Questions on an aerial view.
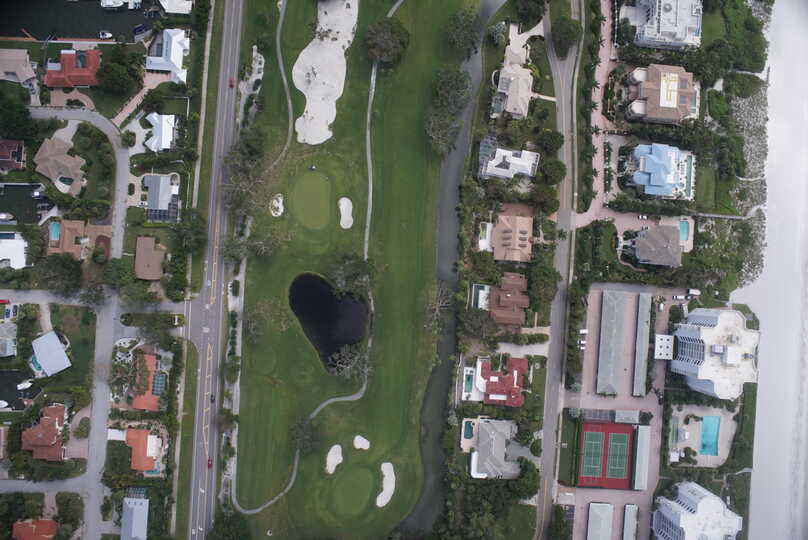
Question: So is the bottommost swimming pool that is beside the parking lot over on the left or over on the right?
right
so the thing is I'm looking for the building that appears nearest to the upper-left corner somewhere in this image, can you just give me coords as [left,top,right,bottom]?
[0,49,38,82]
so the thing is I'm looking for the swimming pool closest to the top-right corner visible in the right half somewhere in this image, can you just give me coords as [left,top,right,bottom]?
[680,81,700,122]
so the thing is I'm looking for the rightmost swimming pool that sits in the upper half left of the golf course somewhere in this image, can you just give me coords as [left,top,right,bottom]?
[148,33,163,57]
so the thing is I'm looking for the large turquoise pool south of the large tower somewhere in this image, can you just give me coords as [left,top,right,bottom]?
[669,405,737,467]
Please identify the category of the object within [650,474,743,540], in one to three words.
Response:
building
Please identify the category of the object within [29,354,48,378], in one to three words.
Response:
swimming pool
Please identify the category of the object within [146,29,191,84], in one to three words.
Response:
house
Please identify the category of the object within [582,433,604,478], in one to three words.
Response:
tennis court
